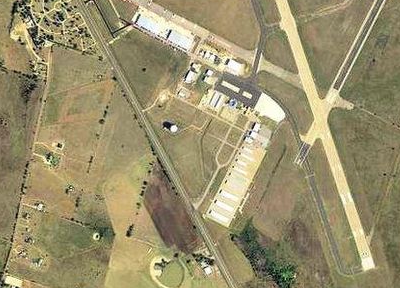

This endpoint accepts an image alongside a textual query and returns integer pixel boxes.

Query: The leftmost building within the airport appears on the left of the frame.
[136,16,168,38]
